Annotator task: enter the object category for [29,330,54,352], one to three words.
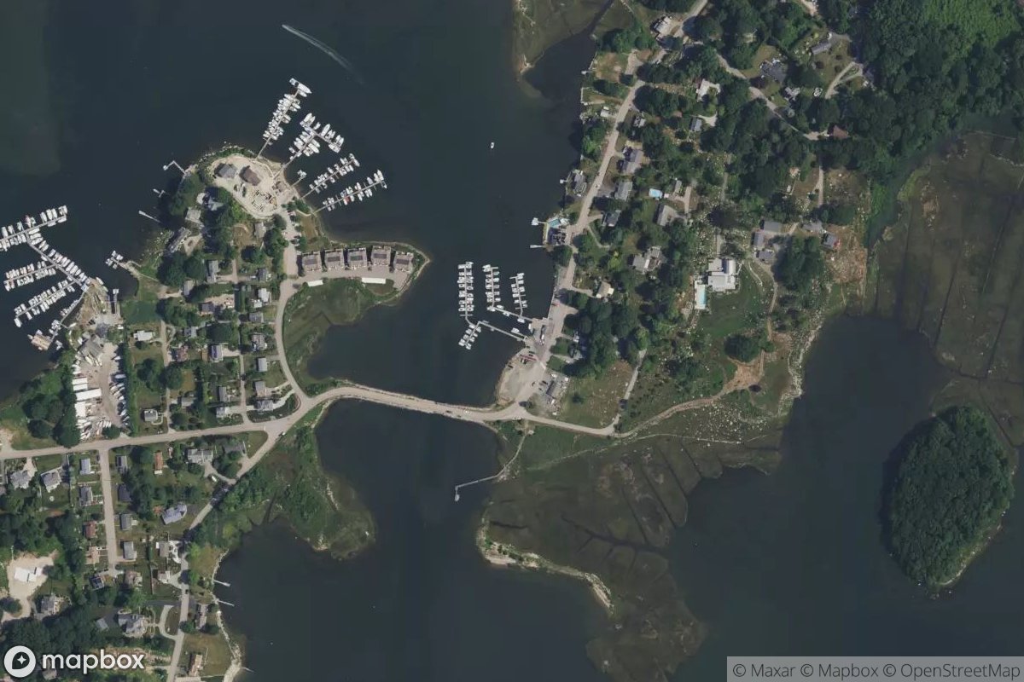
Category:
ship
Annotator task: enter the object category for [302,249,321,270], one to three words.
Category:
house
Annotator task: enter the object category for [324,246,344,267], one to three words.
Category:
house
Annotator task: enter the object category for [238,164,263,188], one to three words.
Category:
building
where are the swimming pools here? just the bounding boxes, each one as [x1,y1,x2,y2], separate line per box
[649,189,662,198]
[695,281,706,308]
[547,217,563,230]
